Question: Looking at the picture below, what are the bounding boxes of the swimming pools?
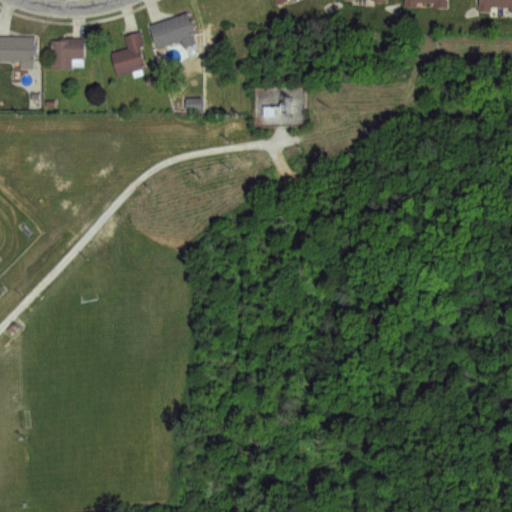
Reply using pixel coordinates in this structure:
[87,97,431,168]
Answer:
[20,74,32,86]
[166,48,180,64]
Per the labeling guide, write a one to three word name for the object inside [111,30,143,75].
house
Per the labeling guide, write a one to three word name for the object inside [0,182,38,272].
sports field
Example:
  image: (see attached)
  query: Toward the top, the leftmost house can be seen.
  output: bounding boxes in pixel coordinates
[0,35,34,68]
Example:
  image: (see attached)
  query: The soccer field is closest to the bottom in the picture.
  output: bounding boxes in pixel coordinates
[23,237,188,504]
